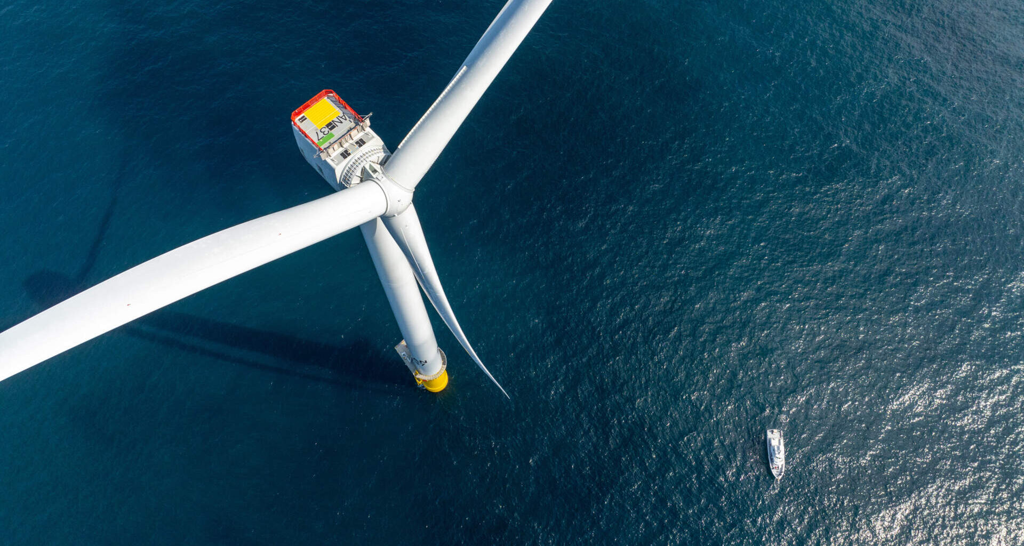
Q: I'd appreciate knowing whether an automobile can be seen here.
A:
No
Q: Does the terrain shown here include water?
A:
Yes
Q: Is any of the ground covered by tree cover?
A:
No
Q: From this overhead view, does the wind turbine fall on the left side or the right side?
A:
left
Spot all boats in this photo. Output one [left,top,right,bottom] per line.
[770,429,787,482]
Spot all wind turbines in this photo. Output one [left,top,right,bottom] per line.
[0,0,553,406]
